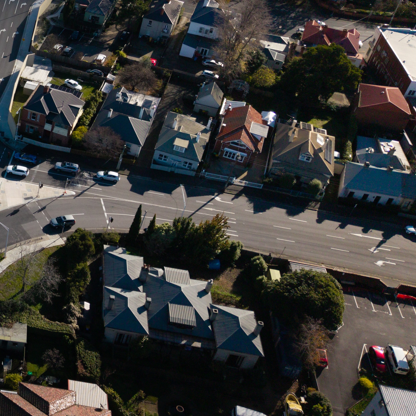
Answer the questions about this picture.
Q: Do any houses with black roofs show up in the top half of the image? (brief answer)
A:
Yes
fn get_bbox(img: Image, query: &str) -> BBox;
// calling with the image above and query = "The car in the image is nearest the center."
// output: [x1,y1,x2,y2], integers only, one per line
[97,172,120,185]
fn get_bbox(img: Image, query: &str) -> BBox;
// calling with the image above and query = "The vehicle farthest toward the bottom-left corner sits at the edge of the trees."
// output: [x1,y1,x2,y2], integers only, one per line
[49,216,76,230]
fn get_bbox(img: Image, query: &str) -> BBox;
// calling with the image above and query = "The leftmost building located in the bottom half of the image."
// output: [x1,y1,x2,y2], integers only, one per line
[0,319,28,354]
